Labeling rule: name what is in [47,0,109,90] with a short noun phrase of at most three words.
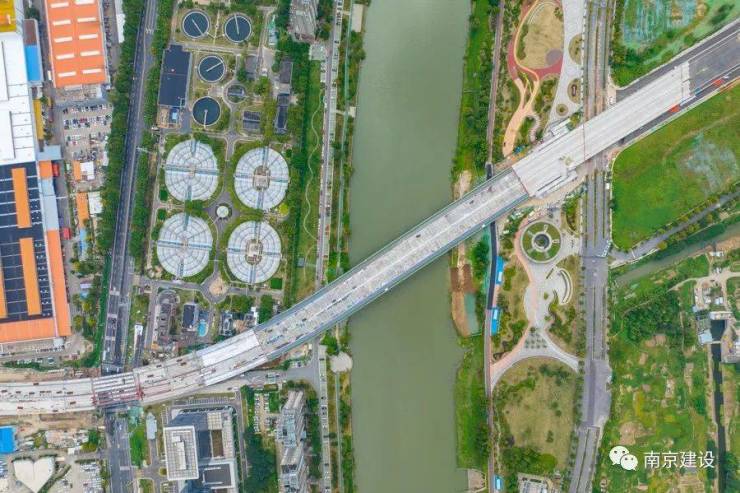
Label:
building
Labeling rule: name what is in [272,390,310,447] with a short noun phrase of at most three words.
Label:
building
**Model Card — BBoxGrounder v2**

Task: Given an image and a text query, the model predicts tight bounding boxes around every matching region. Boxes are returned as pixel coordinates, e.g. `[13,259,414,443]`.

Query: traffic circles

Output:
[200,274,231,303]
